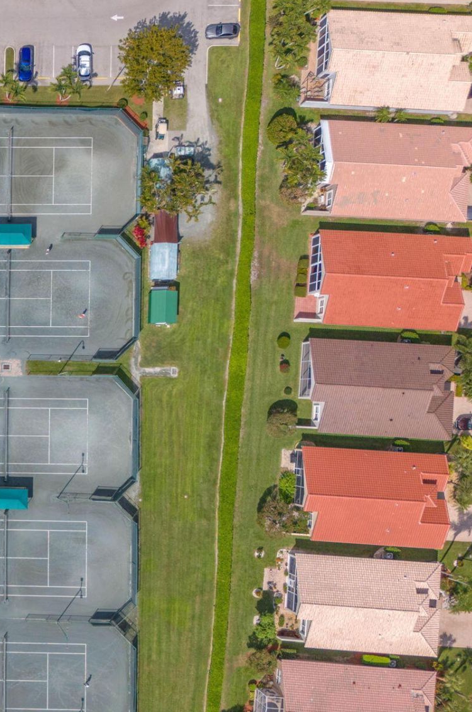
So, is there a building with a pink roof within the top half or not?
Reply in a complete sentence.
Yes, a building with a pink roof is visible within the top half.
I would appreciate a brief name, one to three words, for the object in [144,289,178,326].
shed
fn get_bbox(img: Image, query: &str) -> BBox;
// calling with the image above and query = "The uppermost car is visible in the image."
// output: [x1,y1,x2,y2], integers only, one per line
[205,21,238,39]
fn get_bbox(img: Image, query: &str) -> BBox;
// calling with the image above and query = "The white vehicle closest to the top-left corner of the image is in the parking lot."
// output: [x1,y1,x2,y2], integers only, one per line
[77,46,92,78]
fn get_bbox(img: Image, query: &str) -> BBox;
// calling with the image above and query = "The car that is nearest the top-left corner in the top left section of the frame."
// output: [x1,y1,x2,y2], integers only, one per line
[18,46,33,80]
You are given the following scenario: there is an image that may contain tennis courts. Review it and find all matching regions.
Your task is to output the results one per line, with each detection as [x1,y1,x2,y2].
[0,113,137,236]
[0,497,133,621]
[0,374,135,501]
[0,235,136,360]
[0,619,131,712]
